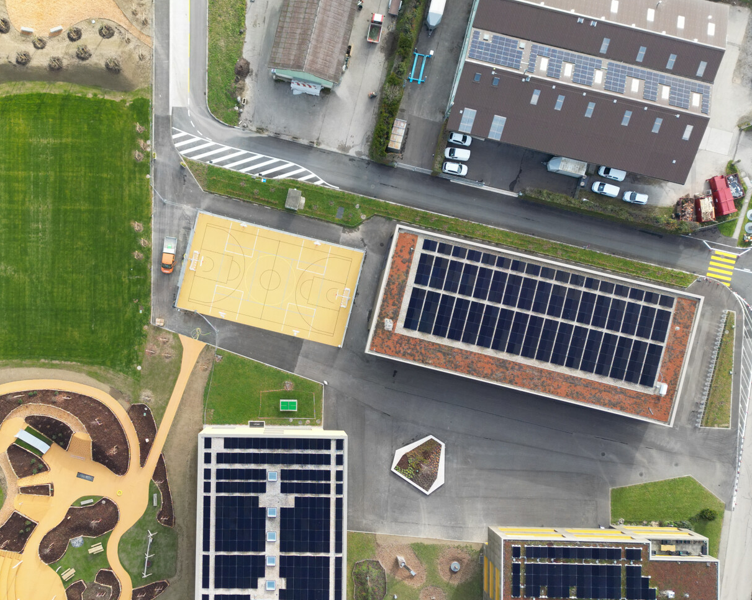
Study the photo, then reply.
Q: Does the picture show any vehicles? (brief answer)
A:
Yes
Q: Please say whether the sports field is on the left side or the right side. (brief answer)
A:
left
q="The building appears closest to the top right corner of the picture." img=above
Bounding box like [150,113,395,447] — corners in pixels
[442,0,730,190]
